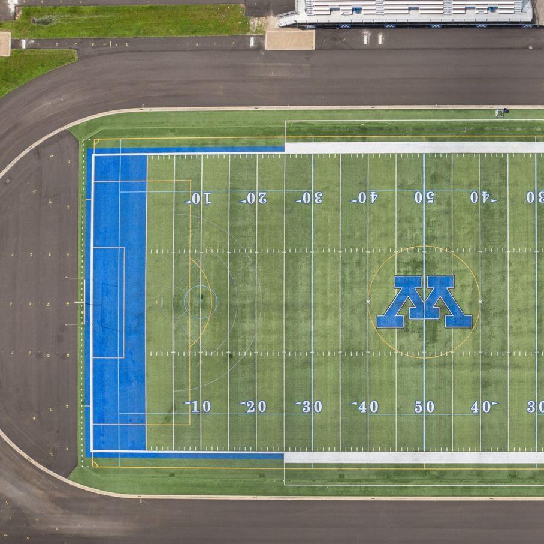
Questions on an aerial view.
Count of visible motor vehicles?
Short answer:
0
